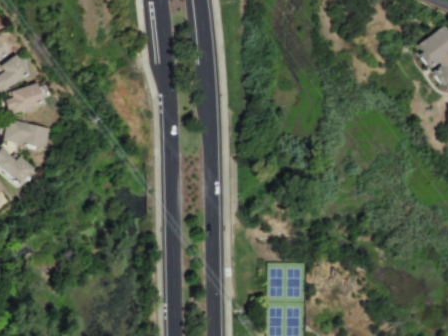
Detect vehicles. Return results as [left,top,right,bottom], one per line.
[206,224,212,234]
[172,124,177,136]
[215,180,220,194]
